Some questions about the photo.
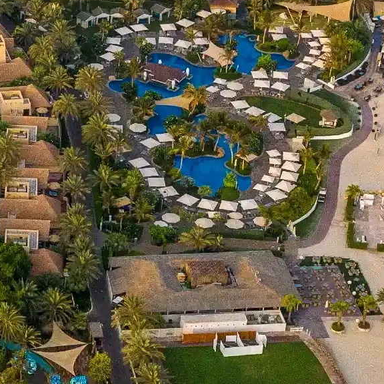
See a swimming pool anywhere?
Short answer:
Yes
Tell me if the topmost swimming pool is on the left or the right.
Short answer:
right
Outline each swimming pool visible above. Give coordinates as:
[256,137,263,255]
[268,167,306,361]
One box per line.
[218,30,294,75]
[145,107,207,133]
[173,132,252,197]
[109,54,217,98]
